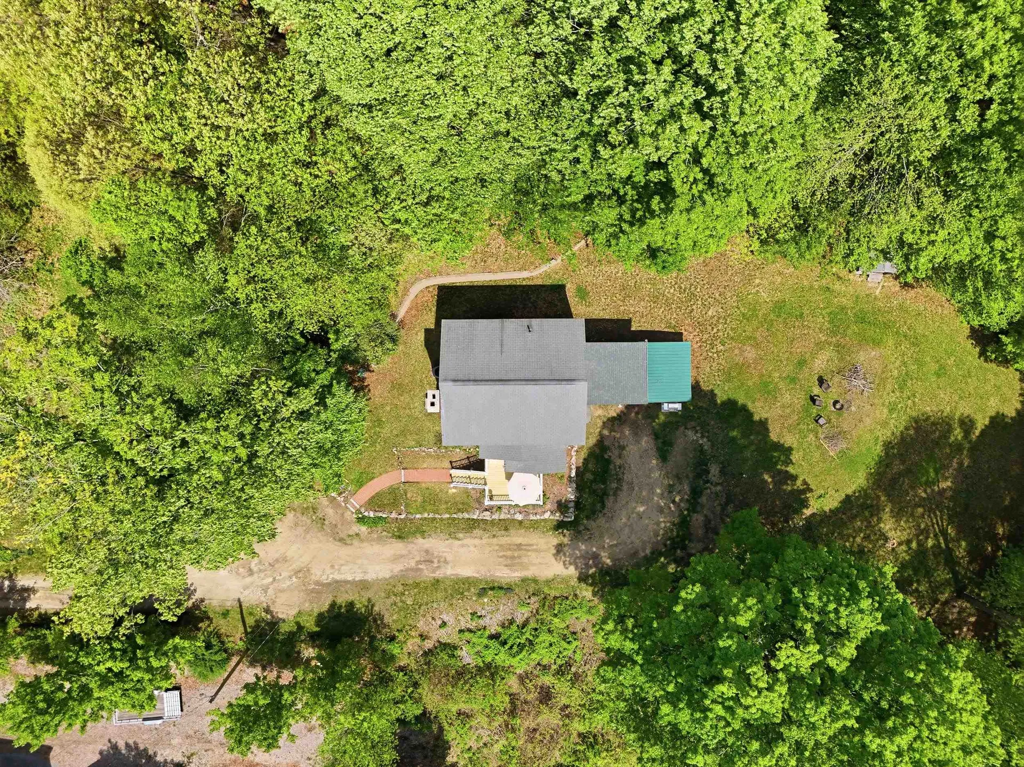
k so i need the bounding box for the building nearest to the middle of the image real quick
[425,318,588,447]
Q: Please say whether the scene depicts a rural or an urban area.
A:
rural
